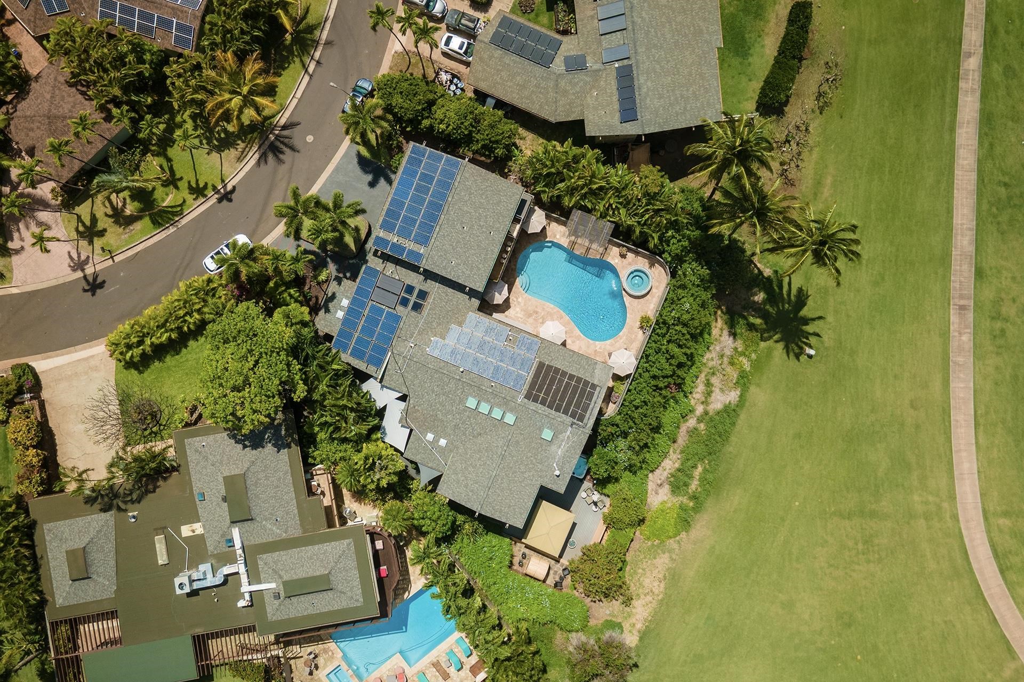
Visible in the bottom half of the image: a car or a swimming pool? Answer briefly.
swimming pool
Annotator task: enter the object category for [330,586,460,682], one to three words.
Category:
swimming pool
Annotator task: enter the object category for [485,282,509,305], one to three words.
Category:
umbrella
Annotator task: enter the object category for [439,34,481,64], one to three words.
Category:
car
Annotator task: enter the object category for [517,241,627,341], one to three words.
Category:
swimming pool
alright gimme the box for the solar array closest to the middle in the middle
[427,314,540,387]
